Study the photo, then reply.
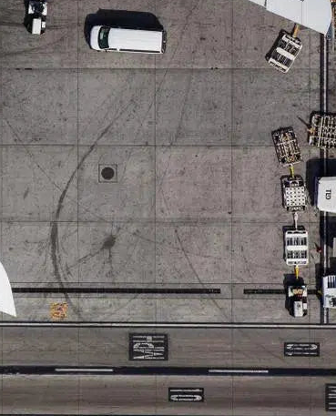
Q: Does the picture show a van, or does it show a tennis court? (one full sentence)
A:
There is a van in the scene.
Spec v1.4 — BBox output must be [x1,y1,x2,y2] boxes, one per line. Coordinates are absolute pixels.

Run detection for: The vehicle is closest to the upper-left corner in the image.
[29,0,47,34]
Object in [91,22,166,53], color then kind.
white van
